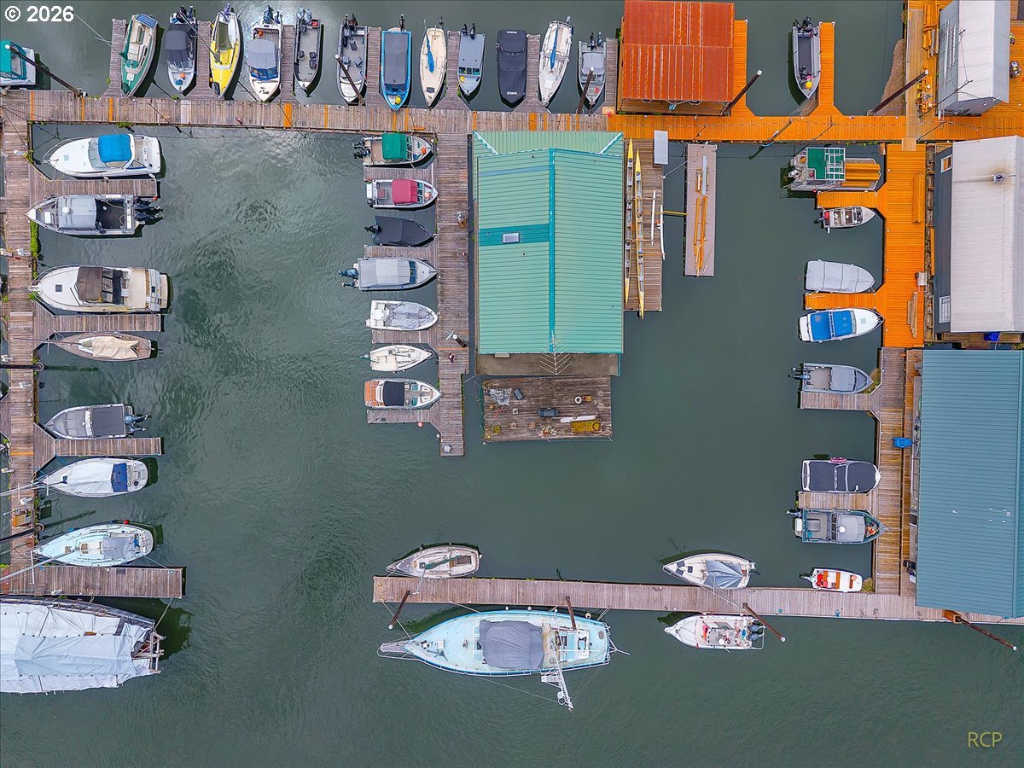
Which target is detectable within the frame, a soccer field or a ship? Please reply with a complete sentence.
Of the two, only a ship appears.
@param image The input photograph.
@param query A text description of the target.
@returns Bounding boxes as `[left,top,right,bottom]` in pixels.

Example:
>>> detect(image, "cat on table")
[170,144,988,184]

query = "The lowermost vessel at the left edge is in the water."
[0,593,173,695]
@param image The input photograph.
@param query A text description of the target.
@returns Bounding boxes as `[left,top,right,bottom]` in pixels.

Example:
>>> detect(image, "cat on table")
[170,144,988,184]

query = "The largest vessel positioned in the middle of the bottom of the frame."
[379,597,630,698]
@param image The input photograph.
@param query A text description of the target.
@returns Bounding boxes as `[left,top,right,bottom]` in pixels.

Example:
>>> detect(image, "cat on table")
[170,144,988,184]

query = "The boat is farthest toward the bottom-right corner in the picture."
[799,568,863,592]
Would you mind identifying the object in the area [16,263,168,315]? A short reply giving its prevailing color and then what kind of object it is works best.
white boat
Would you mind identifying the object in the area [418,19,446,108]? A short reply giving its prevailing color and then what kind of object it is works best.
white boat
